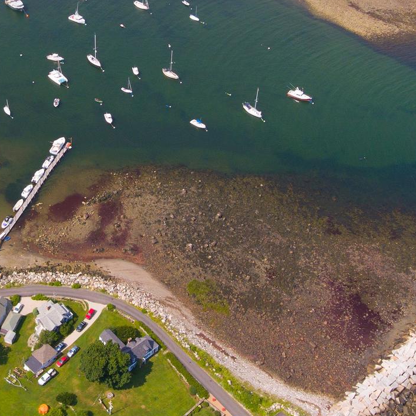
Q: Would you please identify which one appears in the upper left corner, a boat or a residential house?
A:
boat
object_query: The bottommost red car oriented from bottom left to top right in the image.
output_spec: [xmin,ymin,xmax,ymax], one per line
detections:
[55,353,69,367]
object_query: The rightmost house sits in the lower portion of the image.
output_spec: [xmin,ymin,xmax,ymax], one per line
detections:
[98,329,161,374]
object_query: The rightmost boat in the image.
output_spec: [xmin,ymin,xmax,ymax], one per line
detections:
[286,80,314,100]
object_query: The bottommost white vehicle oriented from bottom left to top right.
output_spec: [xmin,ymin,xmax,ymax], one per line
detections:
[38,367,58,383]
